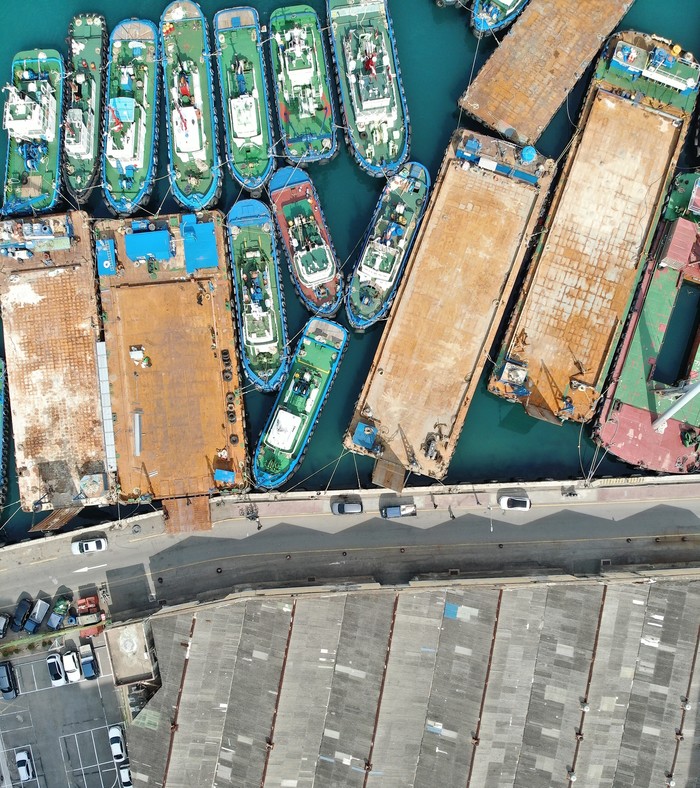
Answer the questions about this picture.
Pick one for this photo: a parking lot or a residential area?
parking lot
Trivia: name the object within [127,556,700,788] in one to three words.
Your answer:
warehouse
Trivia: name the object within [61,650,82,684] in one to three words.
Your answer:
car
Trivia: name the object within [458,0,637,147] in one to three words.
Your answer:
ship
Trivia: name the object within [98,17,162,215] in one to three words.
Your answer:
boat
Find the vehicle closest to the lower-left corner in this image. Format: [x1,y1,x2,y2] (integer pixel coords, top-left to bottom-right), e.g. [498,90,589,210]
[15,750,35,784]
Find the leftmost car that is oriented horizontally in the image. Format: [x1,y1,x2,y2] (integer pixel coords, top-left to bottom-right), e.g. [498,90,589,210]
[70,537,108,556]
